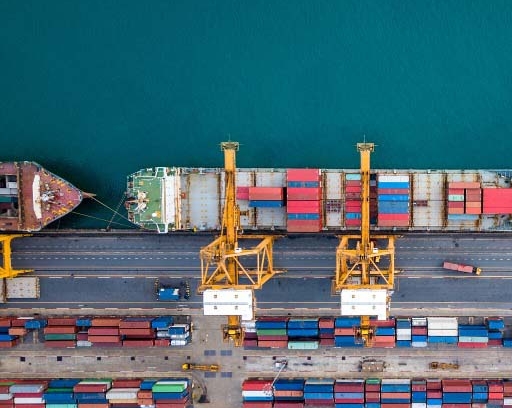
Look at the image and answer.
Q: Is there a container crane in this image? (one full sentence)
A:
Yes, a container crane can be made out from above.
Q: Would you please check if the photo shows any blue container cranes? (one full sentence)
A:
No, I find no blue container crane anywhere in the image.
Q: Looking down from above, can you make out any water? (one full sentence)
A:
Yes, the picture does contain water.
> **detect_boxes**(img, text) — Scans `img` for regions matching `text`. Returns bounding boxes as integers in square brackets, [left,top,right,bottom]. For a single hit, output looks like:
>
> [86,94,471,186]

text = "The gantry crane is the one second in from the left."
[195,133,288,342]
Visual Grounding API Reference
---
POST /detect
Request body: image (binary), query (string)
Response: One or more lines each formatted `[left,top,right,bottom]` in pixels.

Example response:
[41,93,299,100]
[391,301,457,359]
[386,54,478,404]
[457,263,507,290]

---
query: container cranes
[195,133,288,342]
[330,133,409,342]
[0,237,32,281]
